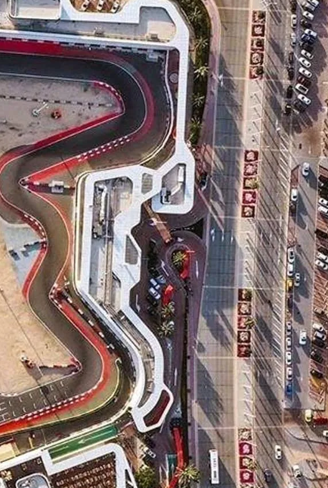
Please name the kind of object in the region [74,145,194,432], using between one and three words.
building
